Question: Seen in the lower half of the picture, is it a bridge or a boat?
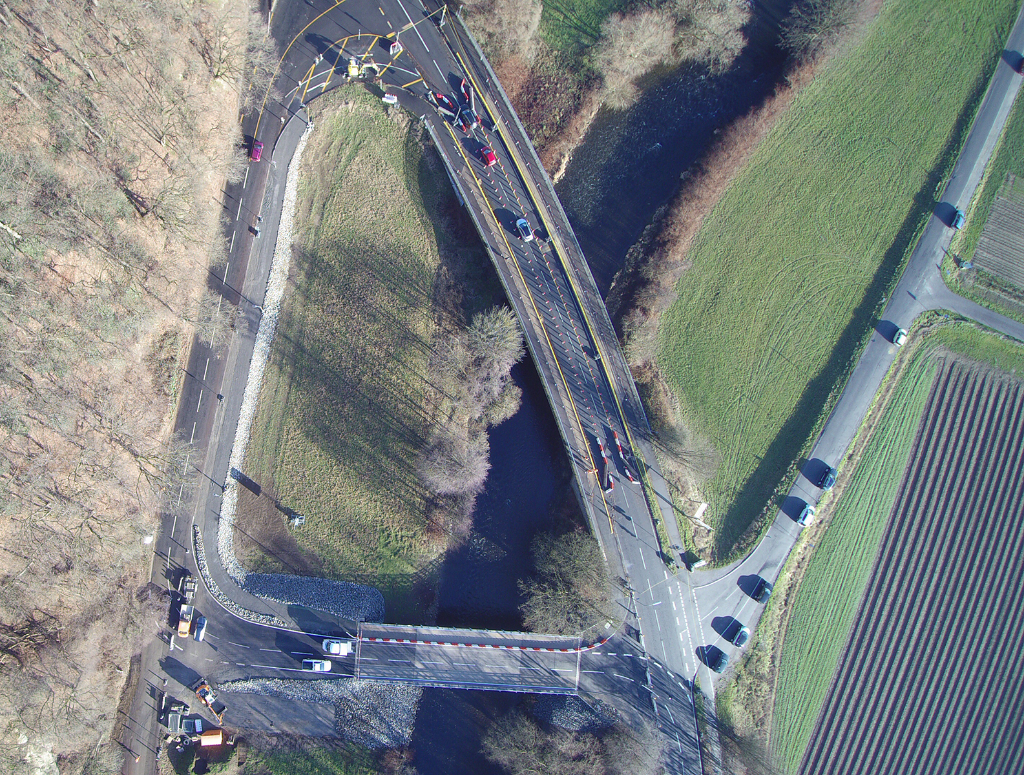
bridge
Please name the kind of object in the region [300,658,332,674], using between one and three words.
vehicle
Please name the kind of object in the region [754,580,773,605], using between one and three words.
car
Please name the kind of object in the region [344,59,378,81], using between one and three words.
work vehicle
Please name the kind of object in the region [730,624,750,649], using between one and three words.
car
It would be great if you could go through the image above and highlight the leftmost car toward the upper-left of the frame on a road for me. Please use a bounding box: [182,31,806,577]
[251,141,265,163]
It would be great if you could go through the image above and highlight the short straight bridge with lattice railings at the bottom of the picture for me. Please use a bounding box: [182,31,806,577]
[356,615,598,712]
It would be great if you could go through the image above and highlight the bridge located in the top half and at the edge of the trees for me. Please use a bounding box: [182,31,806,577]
[422,55,652,489]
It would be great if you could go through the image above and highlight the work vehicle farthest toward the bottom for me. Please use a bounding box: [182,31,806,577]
[189,679,222,721]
